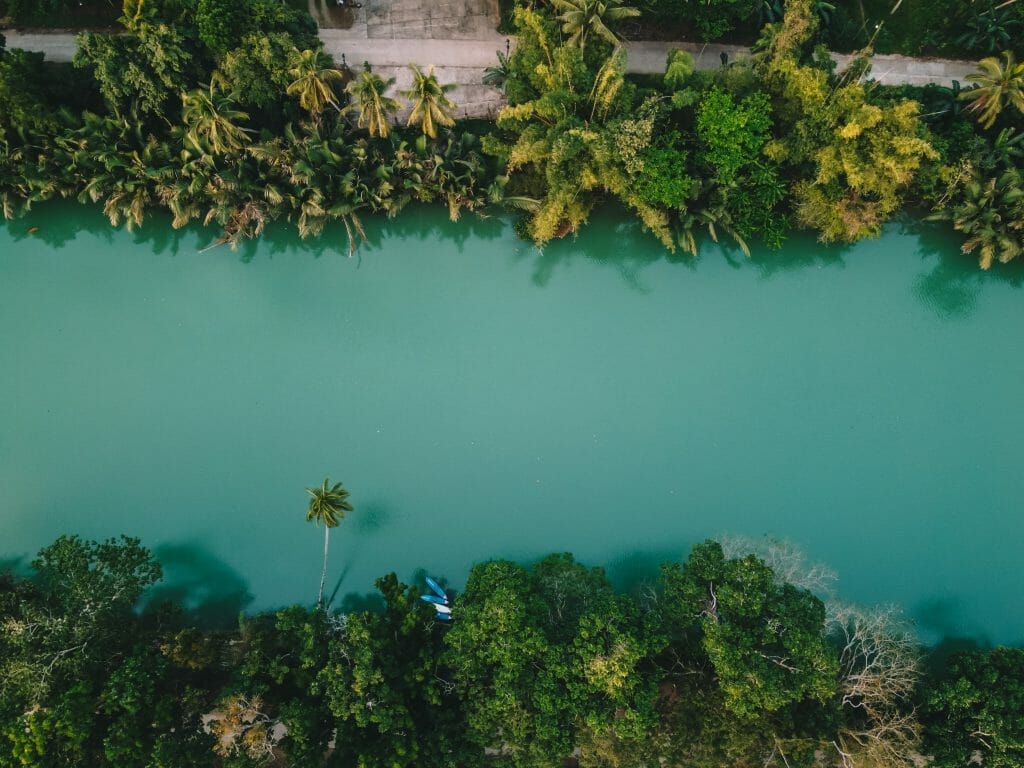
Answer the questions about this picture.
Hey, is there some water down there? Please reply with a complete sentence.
Yes, water shows up in the scene.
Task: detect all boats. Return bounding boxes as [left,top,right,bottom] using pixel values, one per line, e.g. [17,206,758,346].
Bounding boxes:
[433,603,451,612]
[425,577,446,599]
[421,596,449,603]
[430,612,451,619]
